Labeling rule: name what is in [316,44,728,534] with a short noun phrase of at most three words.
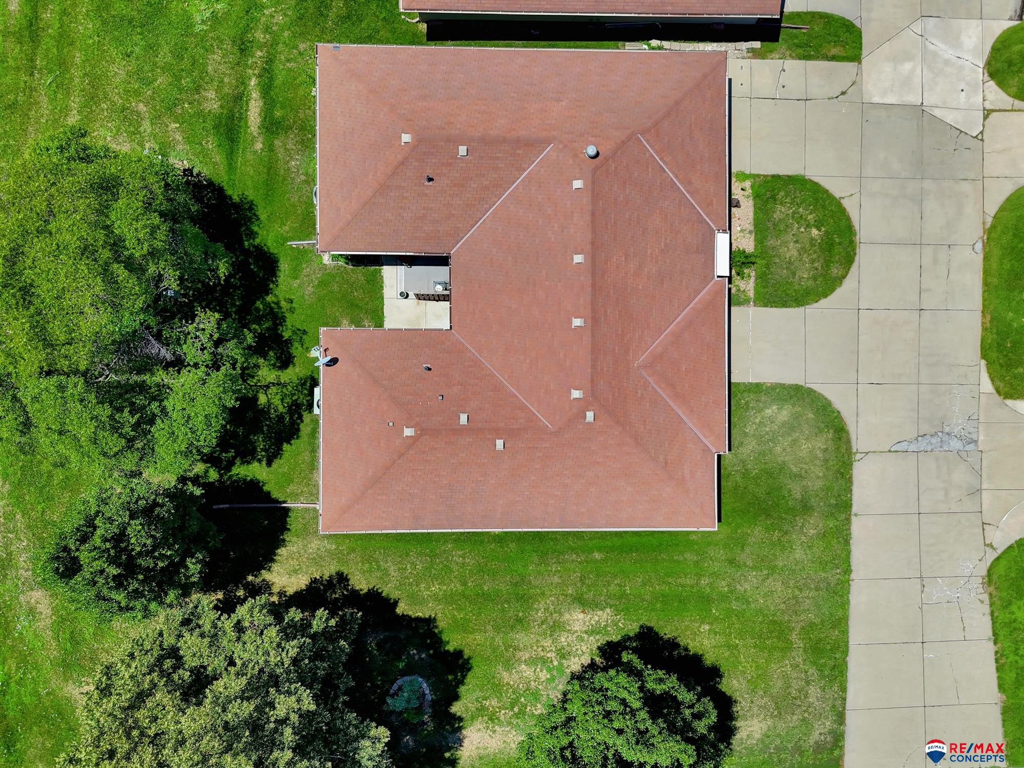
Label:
house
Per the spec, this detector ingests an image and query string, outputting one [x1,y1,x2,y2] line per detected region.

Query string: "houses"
[316,44,728,534]
[399,0,781,26]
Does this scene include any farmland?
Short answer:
No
